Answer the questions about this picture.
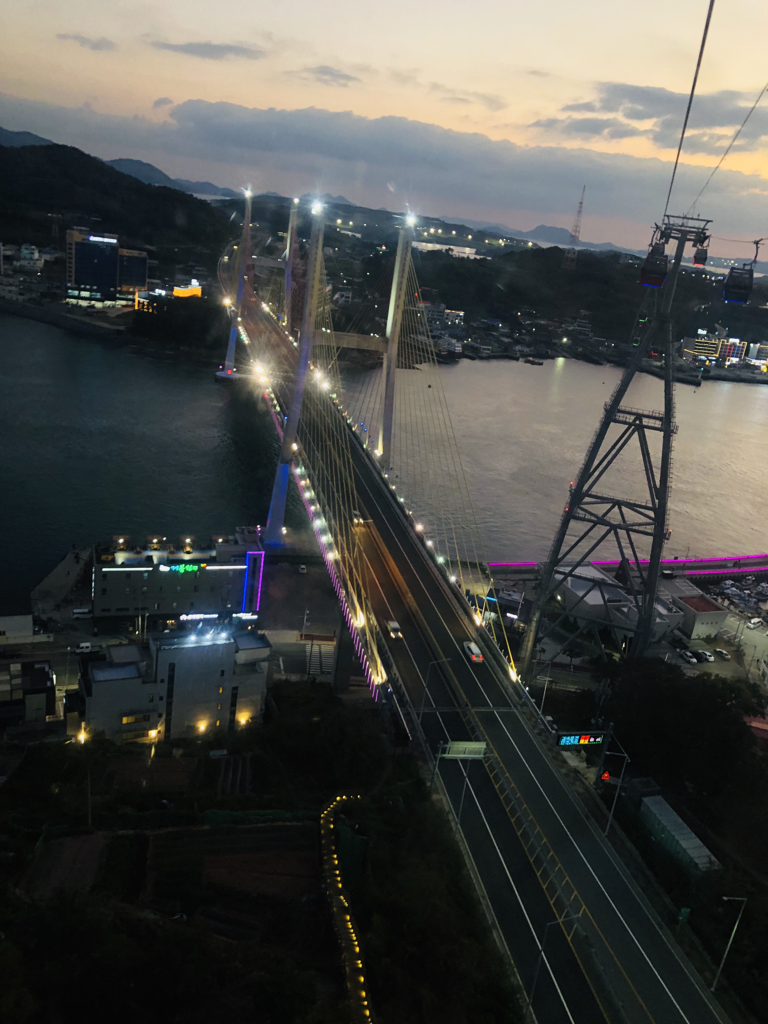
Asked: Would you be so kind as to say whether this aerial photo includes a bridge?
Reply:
Yes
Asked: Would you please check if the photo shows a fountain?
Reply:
No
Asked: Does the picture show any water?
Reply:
Yes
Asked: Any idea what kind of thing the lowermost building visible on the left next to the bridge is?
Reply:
residential house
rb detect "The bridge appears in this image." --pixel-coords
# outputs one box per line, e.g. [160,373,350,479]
[217,193,538,721]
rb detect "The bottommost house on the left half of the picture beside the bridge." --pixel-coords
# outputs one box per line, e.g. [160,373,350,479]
[76,616,278,741]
